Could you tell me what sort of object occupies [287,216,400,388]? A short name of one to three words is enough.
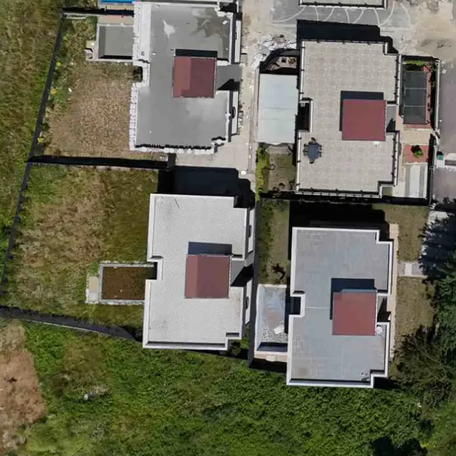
house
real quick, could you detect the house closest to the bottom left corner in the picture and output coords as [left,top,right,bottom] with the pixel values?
[142,185,259,350]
